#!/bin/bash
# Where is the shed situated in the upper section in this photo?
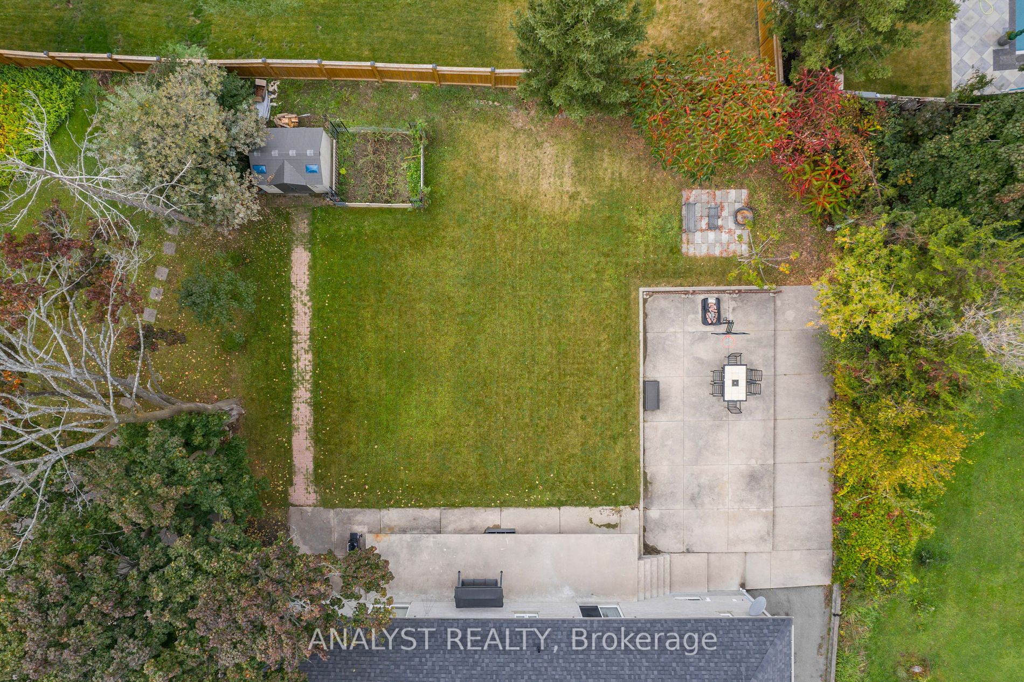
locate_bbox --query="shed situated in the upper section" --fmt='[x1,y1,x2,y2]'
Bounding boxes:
[248,124,331,194]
